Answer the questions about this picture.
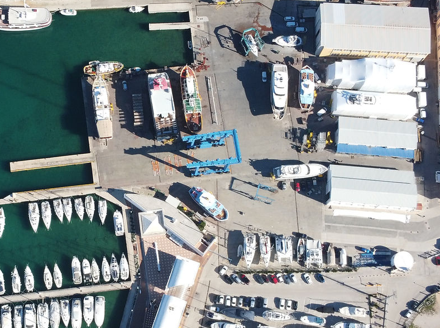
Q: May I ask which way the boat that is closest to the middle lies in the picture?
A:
at an angle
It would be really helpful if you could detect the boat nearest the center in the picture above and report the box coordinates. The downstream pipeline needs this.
[188,185,227,221]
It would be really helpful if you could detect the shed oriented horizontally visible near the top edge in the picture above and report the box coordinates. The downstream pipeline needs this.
[315,3,431,62]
